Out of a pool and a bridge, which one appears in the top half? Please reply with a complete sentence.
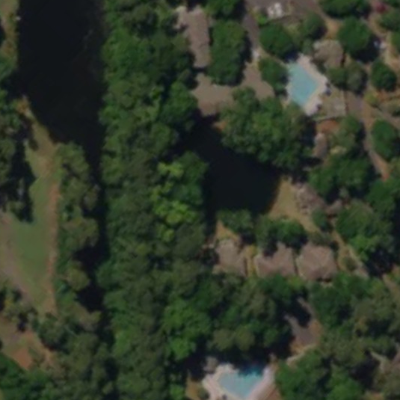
The one visible in the top half is a pool.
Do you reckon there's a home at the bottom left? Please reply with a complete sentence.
No, I see no home at the bottom left.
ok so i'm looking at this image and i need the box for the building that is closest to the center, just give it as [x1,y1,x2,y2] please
[216,241,243,276]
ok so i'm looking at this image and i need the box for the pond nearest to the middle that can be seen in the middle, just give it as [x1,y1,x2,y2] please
[193,127,280,221]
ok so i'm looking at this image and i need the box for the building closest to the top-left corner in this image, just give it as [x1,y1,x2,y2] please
[174,4,208,68]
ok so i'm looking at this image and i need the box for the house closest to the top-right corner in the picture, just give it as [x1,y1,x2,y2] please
[315,40,344,67]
